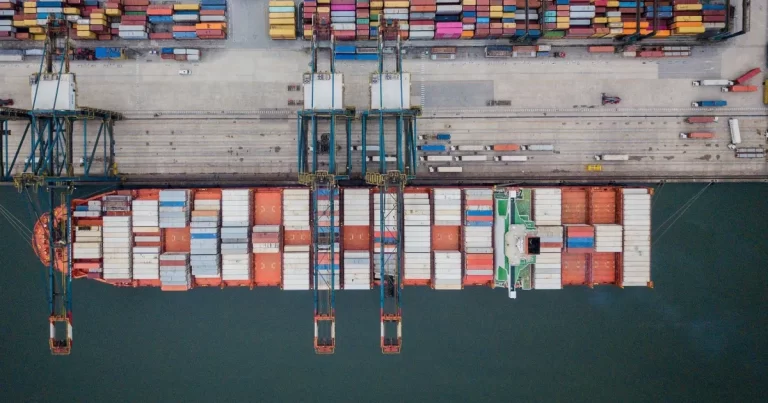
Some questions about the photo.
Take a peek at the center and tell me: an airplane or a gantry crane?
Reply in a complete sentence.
What appears at the center is a gantry crane.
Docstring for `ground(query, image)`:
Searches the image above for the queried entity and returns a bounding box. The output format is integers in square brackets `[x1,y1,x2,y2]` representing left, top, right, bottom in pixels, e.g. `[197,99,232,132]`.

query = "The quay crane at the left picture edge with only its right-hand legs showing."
[0,104,57,180]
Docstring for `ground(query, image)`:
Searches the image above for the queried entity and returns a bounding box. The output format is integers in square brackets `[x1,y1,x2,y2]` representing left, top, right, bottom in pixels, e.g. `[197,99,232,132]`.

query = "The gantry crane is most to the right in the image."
[700,0,751,45]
